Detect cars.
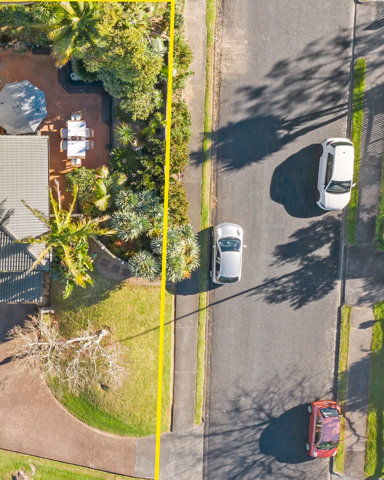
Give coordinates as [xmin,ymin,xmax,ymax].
[302,401,340,462]
[311,139,351,208]
[211,221,248,283]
